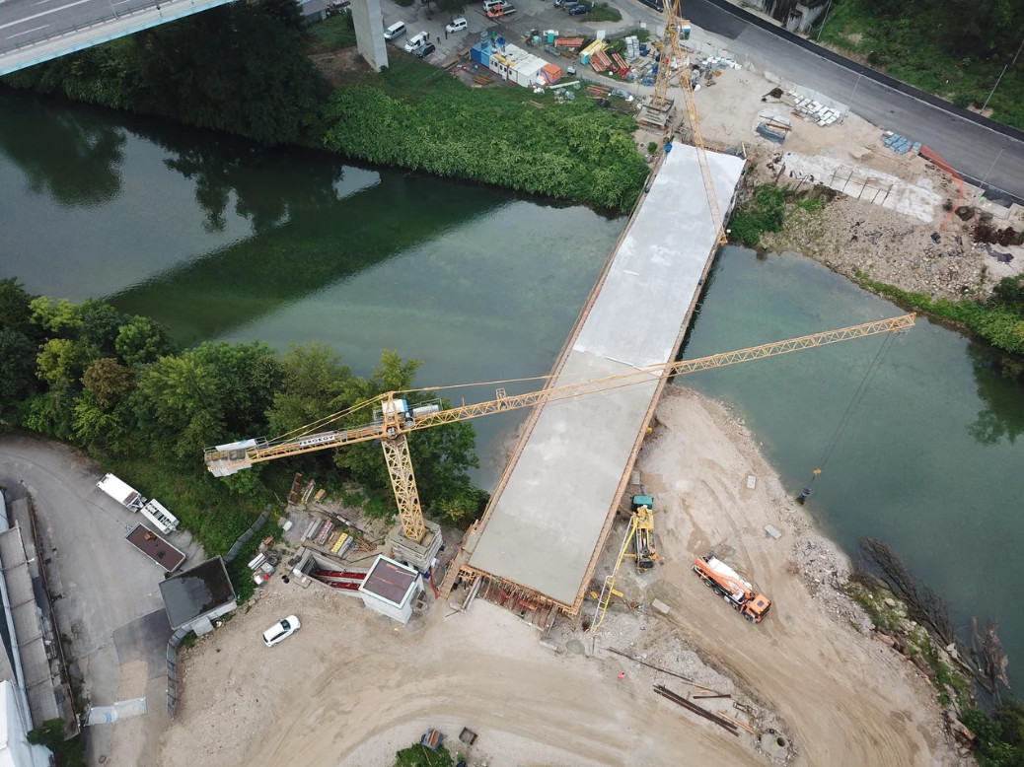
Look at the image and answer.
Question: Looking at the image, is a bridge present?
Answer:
Yes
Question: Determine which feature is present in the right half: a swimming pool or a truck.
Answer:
truck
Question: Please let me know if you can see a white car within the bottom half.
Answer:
Yes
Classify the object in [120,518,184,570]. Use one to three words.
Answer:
trailer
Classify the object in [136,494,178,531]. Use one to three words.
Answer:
trailer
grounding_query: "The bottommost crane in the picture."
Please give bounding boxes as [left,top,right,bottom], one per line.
[201,307,920,580]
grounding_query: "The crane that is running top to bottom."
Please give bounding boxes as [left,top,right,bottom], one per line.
[641,0,731,243]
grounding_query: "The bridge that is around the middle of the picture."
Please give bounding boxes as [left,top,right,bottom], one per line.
[440,140,753,655]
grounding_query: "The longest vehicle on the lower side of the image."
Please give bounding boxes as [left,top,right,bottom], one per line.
[584,482,673,658]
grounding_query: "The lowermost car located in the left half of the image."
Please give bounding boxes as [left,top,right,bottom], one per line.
[258,614,302,648]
